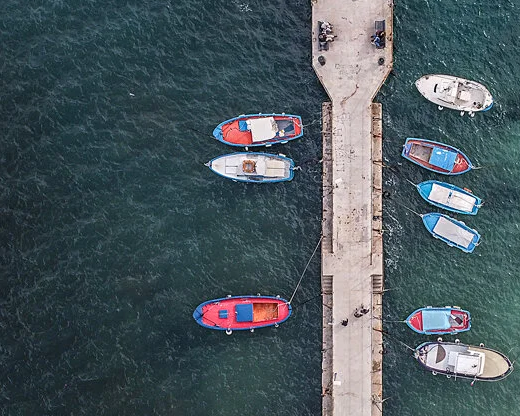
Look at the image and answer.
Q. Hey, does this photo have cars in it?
No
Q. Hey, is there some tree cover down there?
No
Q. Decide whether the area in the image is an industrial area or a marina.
marina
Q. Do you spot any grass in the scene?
No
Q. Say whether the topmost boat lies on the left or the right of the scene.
right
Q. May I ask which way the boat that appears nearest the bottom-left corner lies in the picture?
horizontally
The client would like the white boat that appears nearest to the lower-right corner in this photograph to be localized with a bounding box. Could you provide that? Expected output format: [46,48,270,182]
[415,337,513,386]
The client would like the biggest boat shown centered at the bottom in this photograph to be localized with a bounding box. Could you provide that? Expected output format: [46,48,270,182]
[192,293,292,335]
